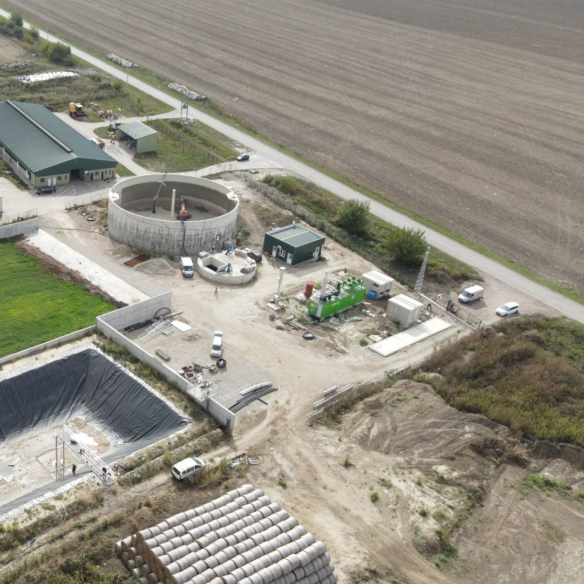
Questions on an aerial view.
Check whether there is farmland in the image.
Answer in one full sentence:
Yes, farmland shows up in the scene.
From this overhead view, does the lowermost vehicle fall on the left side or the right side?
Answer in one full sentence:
You can find the lowermost vehicle on the left side of the picture.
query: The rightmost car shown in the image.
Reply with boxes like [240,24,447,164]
[495,302,524,317]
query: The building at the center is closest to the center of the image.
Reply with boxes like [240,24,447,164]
[262,223,325,264]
